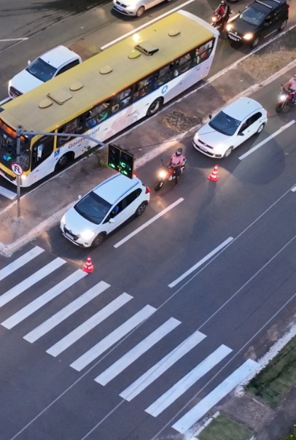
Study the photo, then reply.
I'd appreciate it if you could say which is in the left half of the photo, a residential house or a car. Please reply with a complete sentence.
You can see a car in the left half of the photo.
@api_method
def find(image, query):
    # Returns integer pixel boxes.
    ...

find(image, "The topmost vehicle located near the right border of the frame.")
[227,0,290,46]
